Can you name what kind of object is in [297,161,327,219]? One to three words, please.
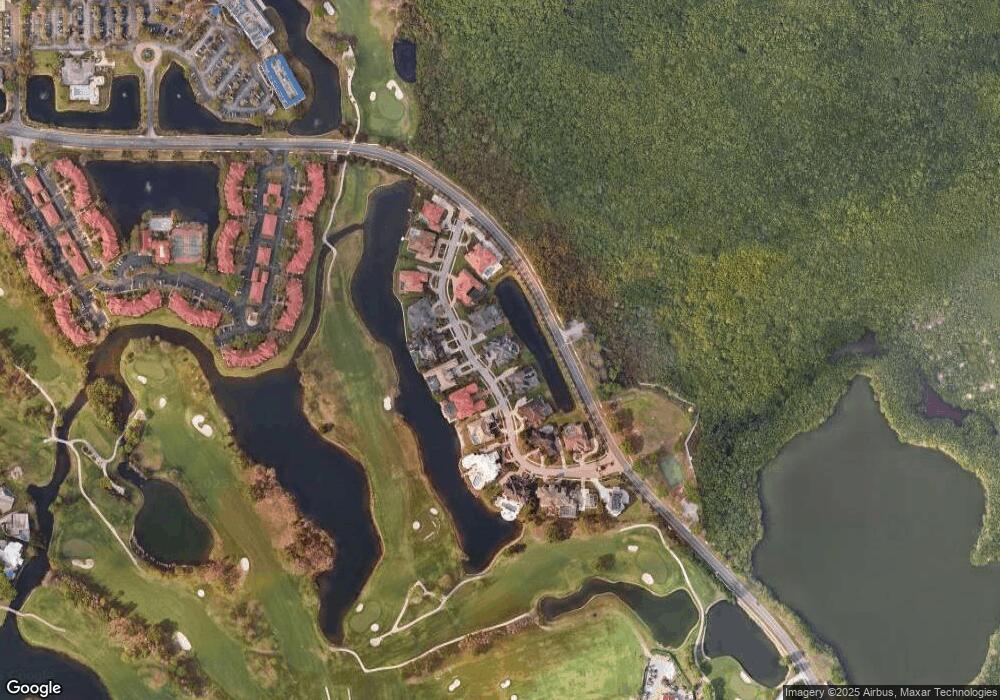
building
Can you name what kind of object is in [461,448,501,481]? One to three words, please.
house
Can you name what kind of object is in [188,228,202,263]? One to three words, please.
tennis court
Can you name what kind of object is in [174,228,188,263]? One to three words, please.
tennis court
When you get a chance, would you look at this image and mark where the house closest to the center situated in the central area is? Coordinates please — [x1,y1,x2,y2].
[479,337,521,364]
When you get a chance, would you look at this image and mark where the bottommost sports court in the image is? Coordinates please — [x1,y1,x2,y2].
[661,456,684,490]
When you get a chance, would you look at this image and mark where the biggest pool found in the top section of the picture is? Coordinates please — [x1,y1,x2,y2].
[148,216,172,231]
